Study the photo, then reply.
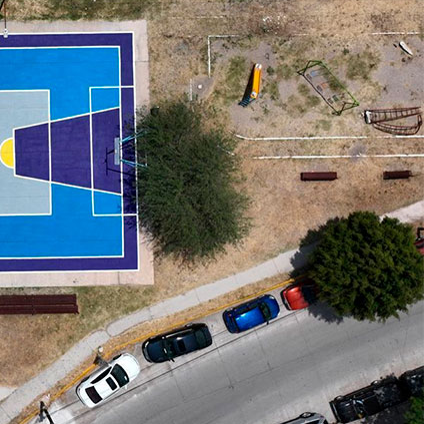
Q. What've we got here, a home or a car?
car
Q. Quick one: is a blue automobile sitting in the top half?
No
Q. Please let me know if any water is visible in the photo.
No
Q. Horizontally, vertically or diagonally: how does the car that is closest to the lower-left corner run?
diagonally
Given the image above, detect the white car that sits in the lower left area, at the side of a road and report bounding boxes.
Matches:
[75,353,142,411]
